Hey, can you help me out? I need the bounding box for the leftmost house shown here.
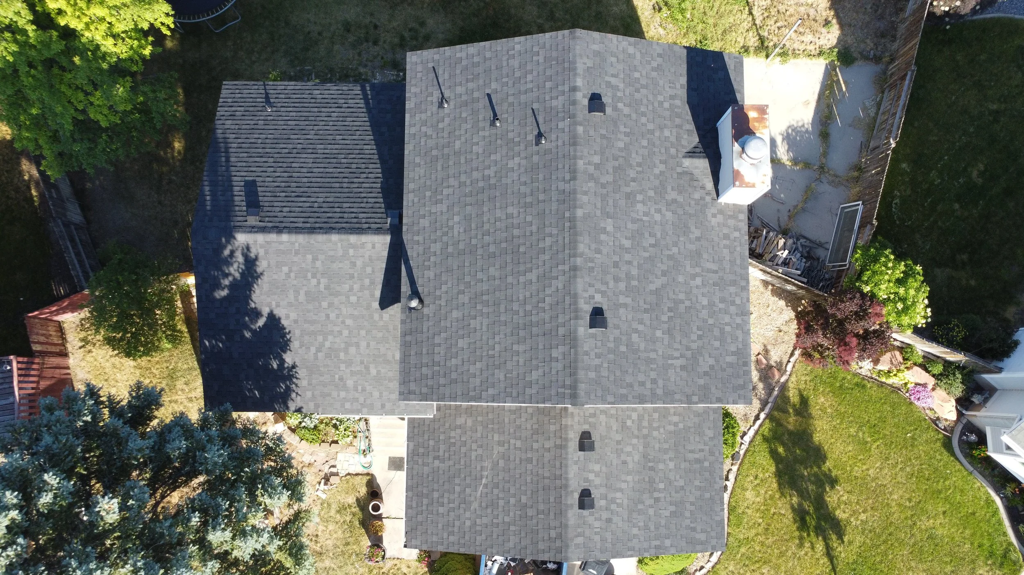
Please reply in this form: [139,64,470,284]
[190,28,773,562]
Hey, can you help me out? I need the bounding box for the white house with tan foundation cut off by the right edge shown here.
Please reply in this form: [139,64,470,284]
[959,359,1024,484]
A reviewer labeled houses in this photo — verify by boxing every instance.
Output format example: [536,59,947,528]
[959,359,1024,484]
[190,28,773,562]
